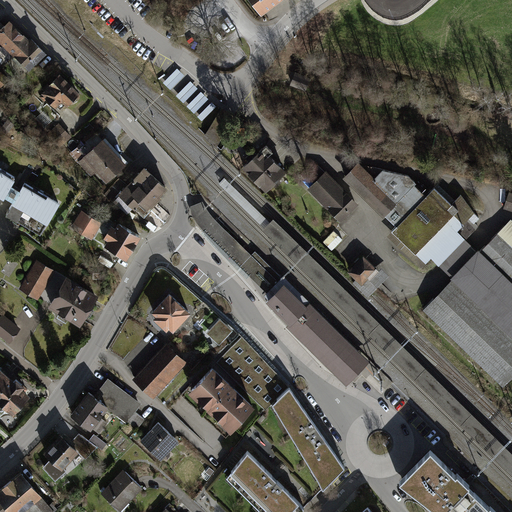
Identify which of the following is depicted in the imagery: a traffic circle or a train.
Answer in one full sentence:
Of the two, only a traffic circle appears.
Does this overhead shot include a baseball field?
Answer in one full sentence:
No, no baseball field is visible in the view.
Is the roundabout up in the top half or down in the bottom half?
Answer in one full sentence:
The roundabout sits in the bottom half of the picture.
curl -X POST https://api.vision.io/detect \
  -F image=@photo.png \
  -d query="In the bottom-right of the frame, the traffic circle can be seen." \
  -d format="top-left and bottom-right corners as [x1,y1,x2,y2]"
[346,408,414,476]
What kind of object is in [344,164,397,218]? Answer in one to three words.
building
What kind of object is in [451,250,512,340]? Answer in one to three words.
building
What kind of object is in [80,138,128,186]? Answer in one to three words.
house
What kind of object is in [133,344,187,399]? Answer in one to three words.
house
